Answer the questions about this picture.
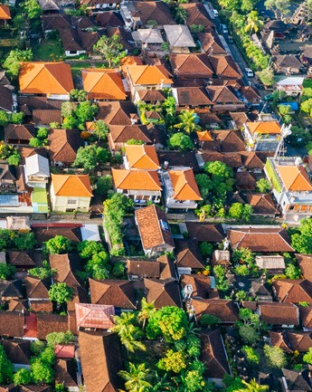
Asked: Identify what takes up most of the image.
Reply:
buildings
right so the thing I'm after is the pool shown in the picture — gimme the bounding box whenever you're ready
[272,99,310,111]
